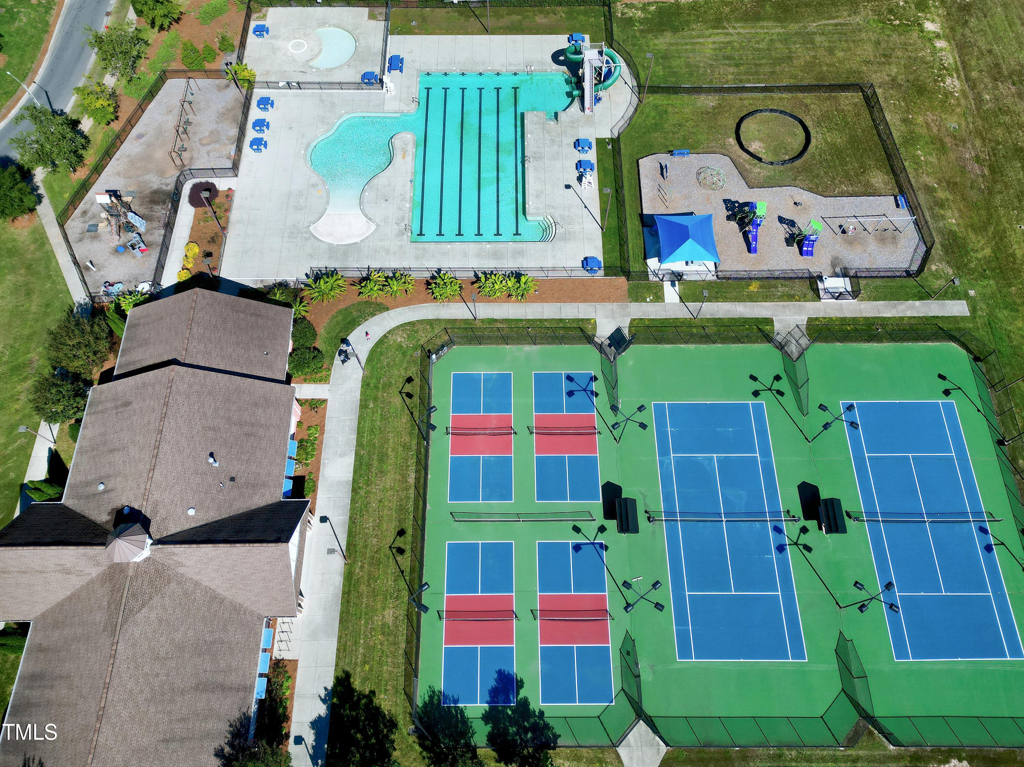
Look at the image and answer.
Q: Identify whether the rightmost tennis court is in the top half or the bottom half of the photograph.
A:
bottom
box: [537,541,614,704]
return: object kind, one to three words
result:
sports court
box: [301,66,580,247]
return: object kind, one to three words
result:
swimming pool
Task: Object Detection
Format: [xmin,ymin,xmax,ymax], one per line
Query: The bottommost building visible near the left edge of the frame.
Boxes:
[0,289,326,767]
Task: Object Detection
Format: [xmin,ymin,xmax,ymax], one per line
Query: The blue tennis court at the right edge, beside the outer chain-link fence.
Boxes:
[840,400,1024,661]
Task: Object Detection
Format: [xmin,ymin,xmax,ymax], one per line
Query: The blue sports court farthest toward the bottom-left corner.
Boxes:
[442,542,515,705]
